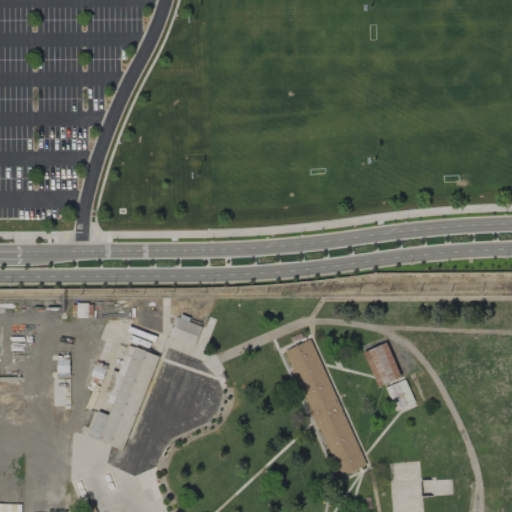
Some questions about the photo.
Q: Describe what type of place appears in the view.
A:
sports ground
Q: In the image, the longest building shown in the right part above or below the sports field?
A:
below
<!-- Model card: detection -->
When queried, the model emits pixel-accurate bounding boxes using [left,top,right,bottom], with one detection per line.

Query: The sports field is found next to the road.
[98,0,512,231]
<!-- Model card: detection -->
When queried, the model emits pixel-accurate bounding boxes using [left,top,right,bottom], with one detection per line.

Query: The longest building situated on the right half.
[287,340,366,476]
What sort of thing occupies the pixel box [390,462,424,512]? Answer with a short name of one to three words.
basketball court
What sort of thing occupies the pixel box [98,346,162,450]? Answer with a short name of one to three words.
building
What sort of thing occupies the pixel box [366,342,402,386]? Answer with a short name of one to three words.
barn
